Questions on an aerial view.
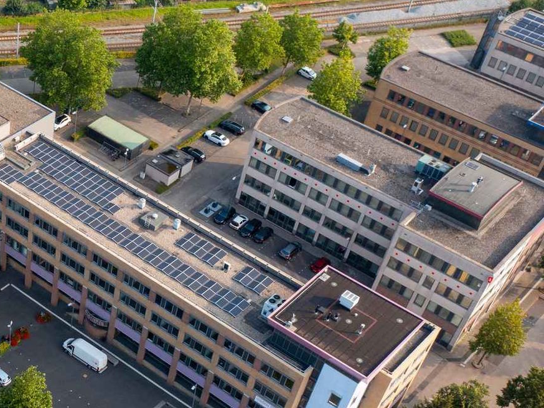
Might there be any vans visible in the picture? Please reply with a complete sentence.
Yes, a van appears in the view.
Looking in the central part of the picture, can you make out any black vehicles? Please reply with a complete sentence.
Yes, you'll find a black vehicle in the central part of the picture.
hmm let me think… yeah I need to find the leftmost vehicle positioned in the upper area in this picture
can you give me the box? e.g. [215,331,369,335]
[53,111,72,127]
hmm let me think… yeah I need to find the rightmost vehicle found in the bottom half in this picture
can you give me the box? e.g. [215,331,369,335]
[311,255,334,272]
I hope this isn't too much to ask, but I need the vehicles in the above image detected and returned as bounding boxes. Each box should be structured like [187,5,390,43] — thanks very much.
[53,111,72,127]
[182,141,207,160]
[229,212,252,229]
[219,117,245,134]
[239,217,263,236]
[311,255,334,272]
[64,336,109,369]
[205,130,231,145]
[251,97,271,111]
[0,367,9,386]
[252,224,277,243]
[214,205,237,223]
[279,240,304,258]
